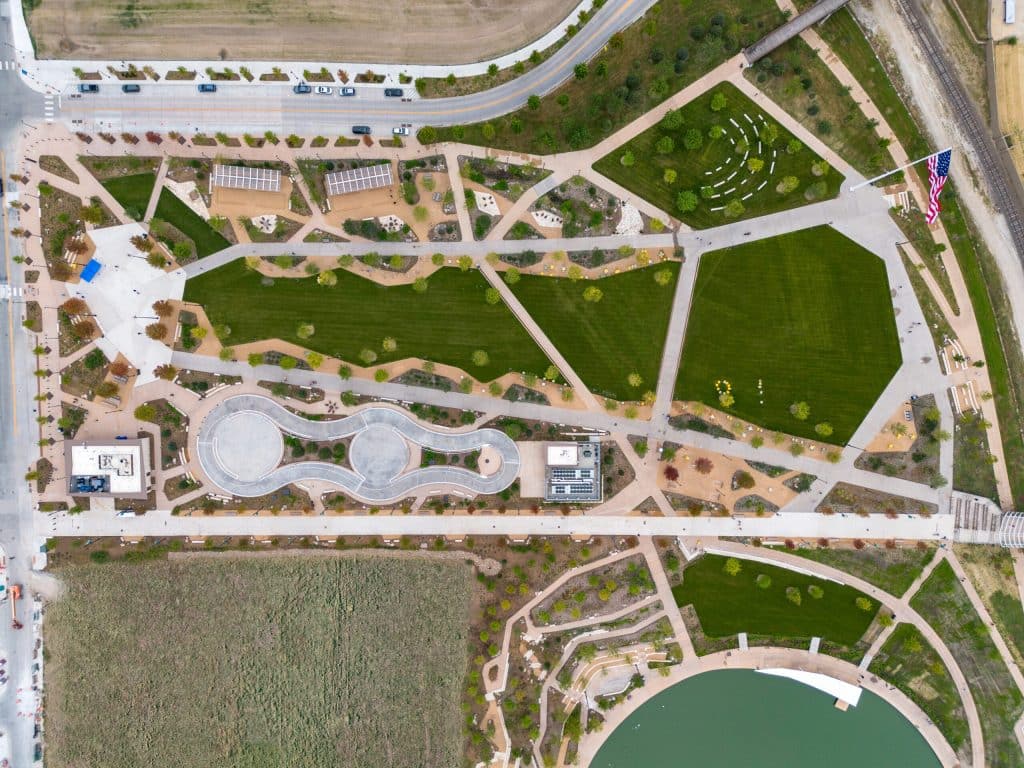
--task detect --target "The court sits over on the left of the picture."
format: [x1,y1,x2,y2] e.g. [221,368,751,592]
[196,393,521,501]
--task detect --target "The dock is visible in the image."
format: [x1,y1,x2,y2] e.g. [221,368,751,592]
[754,667,862,711]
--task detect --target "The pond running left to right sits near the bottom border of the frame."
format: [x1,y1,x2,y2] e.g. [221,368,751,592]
[588,666,944,768]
